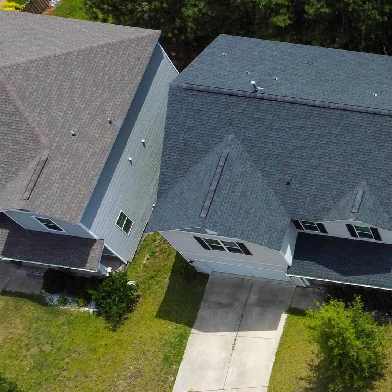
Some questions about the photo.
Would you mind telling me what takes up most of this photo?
buildings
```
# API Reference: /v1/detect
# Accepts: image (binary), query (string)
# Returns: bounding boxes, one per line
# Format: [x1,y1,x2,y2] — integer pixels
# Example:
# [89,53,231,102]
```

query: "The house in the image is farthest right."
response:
[144,35,392,294]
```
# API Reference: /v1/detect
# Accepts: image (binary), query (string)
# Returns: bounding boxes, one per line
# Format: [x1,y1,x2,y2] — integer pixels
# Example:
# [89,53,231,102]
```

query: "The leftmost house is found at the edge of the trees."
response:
[0,12,180,284]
